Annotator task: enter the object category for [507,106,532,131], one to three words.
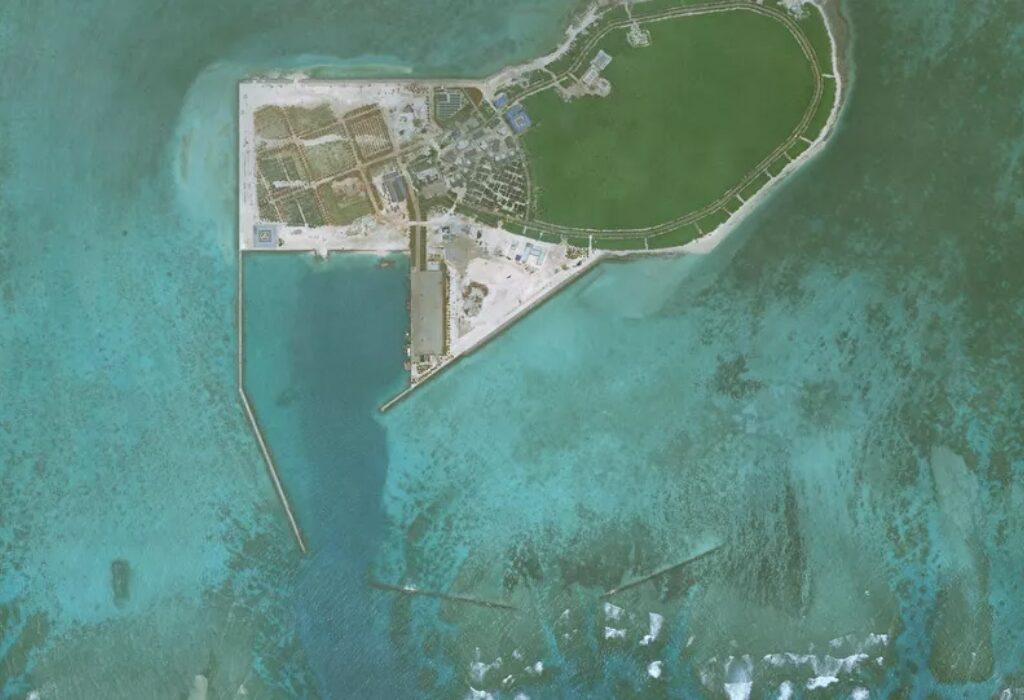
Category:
house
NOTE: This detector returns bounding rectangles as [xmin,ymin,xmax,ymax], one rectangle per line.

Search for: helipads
[253,224,277,247]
